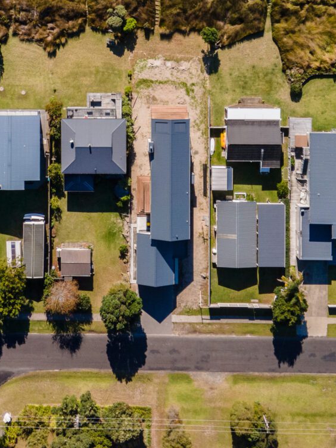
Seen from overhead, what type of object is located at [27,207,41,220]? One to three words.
vehicle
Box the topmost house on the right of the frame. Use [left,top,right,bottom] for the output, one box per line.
[225,98,285,174]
